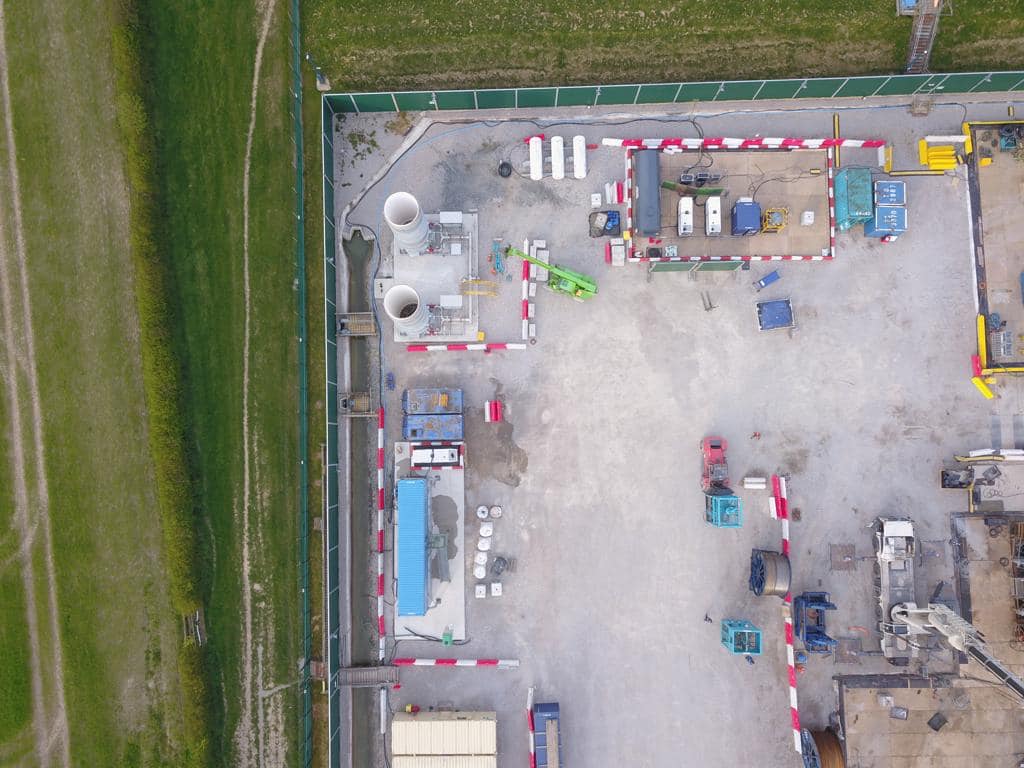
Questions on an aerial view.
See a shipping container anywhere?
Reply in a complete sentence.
Yes, the frame does contain a shipping container.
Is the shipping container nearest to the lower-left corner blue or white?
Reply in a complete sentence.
The shipping container nearest to the lower-left corner is blue.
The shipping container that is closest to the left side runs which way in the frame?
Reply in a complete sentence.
In this picture, the shipping container that is closest to the left side lies from top to bottom.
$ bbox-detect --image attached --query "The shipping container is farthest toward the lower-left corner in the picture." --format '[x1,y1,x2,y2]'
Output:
[397,473,433,616]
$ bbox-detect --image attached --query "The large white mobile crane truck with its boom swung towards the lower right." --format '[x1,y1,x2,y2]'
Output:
[849,517,1024,701]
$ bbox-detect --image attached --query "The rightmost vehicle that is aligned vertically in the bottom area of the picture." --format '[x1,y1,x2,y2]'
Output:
[700,437,729,498]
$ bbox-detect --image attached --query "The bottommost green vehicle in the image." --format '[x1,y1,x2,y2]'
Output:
[505,243,599,301]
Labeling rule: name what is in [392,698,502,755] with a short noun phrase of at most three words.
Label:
building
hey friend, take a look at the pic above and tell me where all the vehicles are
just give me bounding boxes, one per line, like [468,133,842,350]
[700,437,729,498]
[505,243,599,301]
